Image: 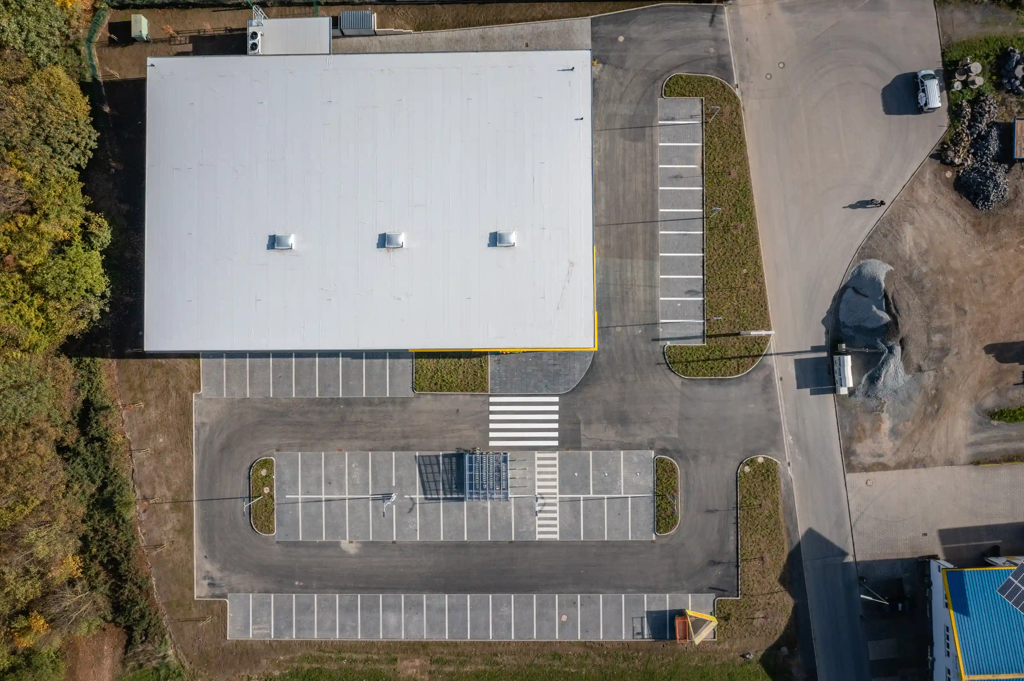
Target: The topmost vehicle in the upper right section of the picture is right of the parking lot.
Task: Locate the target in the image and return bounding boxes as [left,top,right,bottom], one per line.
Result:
[916,73,942,114]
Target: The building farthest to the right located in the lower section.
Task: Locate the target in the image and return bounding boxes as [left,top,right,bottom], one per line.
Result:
[933,560,1024,681]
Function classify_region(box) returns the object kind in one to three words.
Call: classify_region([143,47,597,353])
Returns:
building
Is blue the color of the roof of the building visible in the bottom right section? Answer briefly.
Yes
